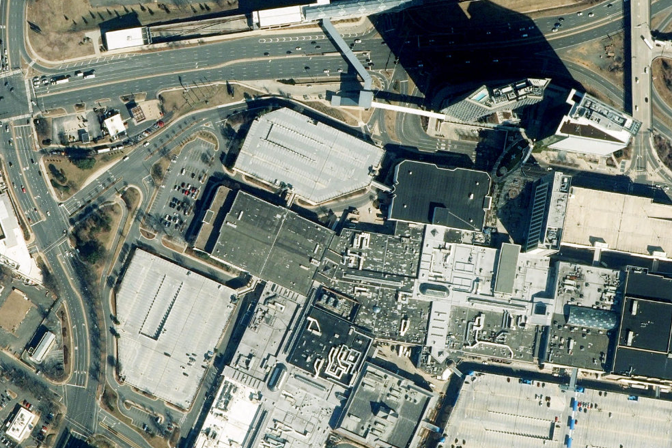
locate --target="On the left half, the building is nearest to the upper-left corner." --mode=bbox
[103,28,144,51]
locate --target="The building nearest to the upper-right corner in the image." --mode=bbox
[535,89,642,155]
